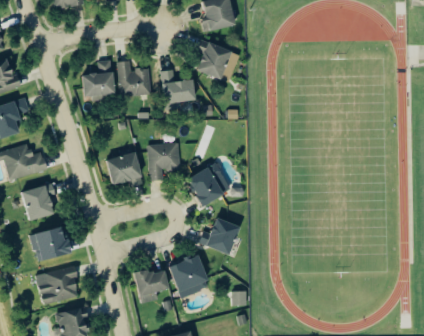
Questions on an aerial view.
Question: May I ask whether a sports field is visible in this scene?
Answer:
Yes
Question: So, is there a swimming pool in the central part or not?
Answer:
Yes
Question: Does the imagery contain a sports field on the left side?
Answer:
No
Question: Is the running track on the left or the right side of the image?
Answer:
right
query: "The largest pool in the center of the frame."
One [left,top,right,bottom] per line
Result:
[217,156,241,184]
